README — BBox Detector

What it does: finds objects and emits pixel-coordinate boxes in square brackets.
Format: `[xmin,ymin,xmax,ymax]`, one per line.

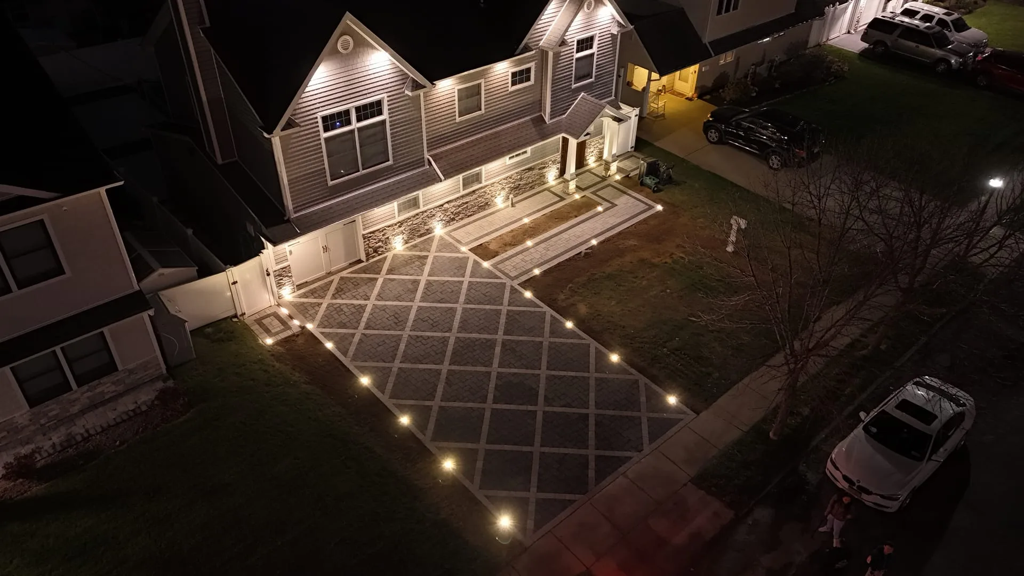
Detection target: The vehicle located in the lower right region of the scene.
[824,372,975,510]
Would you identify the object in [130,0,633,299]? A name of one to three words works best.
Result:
house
